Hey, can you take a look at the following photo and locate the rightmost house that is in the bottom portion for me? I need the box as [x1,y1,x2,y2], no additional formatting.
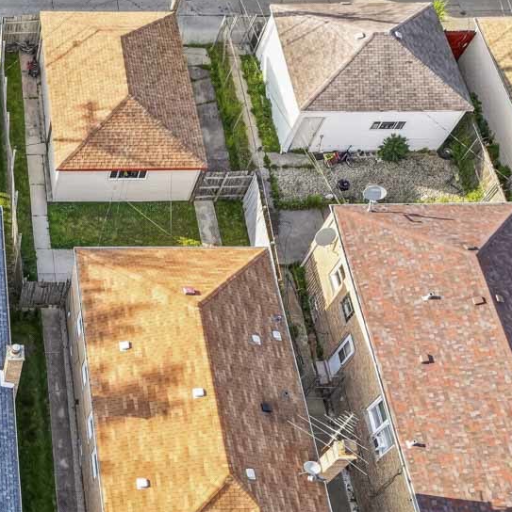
[295,202,512,512]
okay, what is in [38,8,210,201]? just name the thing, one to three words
building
